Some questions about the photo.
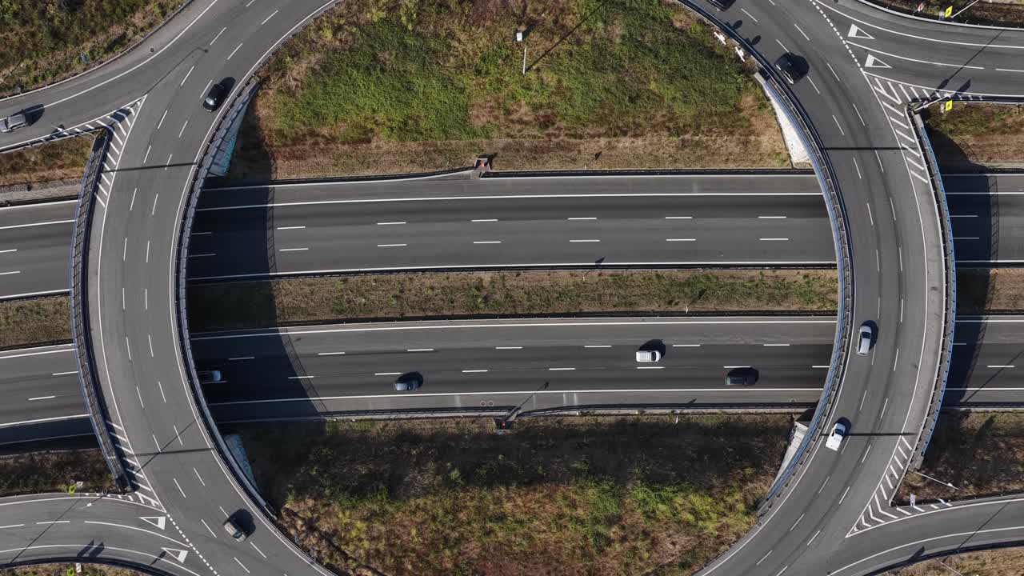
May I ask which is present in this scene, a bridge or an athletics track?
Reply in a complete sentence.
Looking from above, you can make out a bridge.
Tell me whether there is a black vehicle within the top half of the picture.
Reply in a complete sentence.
Yes, within the top half of the picture there is a black vehicle.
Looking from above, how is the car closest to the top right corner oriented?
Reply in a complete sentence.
What the image shows is the car closest to the top right corner lying on a diagonal.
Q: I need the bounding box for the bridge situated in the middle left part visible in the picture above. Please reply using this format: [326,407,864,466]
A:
[73,79,268,510]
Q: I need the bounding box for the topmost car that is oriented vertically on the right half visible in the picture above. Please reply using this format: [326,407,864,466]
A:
[855,325,870,356]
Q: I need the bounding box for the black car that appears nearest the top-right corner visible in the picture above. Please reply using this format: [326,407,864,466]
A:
[774,58,799,85]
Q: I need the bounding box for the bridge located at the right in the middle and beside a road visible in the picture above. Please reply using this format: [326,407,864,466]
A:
[756,74,951,510]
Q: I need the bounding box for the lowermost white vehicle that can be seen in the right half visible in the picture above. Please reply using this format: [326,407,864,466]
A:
[825,422,845,452]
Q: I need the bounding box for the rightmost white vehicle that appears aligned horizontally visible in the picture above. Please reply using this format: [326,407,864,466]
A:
[634,350,662,362]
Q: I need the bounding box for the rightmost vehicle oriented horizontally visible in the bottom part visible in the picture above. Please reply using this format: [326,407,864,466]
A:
[724,374,755,387]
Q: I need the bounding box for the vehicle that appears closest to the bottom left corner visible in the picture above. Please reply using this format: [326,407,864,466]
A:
[223,519,247,543]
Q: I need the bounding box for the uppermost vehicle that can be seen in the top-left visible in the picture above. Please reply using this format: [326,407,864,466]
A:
[204,83,226,110]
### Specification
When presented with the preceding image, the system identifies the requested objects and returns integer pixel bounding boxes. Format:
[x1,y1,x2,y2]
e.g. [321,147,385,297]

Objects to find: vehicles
[711,0,733,10]
[204,83,226,110]
[0,114,29,132]
[855,325,870,356]
[394,380,421,392]
[724,374,755,387]
[825,422,845,452]
[223,519,247,543]
[634,350,662,362]
[200,370,223,382]
[774,58,799,85]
